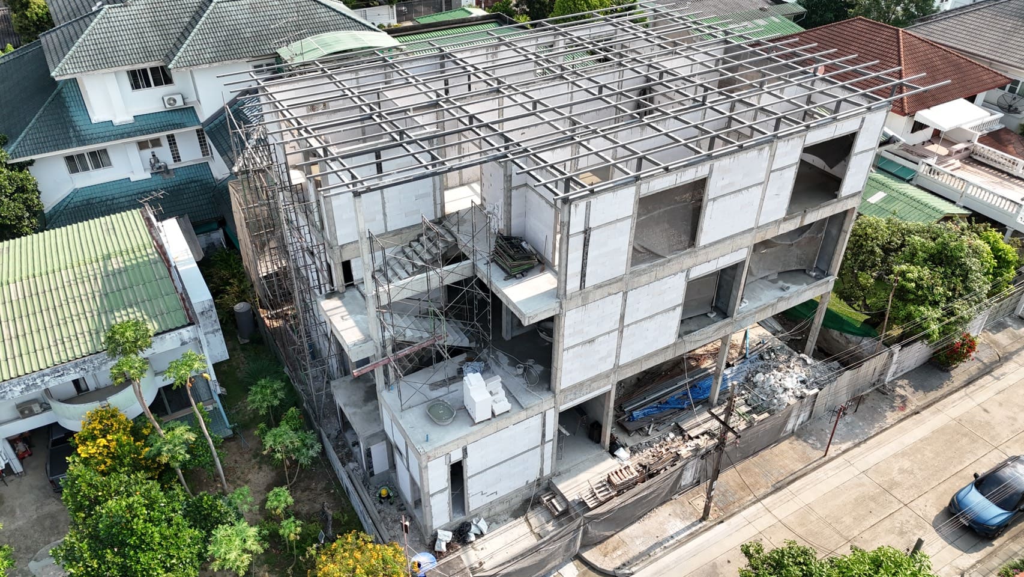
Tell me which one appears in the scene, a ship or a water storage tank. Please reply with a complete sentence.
There is a water storage tank in the scene.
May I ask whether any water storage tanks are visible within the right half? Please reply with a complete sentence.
No, the scene shows no water storage tank within the right half.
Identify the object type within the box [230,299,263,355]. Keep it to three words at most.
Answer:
water tank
